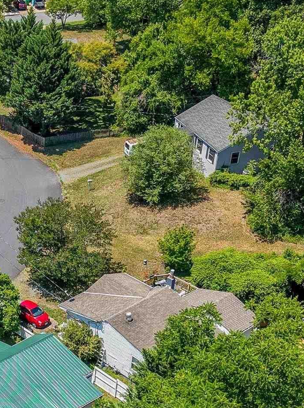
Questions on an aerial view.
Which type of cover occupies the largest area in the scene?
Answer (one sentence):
The largest share of the image is taken up by trees.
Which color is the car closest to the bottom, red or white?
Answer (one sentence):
The car closest to the bottom looks red in the image.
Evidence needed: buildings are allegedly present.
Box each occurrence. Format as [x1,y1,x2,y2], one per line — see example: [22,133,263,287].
[59,262,255,385]
[175,93,275,171]
[0,332,102,408]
